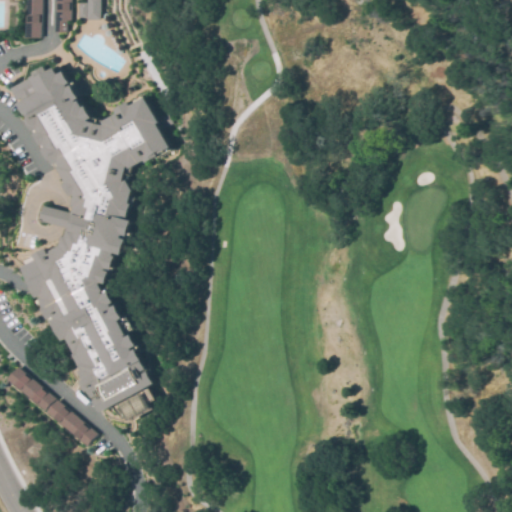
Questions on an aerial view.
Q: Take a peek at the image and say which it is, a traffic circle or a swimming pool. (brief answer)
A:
swimming pool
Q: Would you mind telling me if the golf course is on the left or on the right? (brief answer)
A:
right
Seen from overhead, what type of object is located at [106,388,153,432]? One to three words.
building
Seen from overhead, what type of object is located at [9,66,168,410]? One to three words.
building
